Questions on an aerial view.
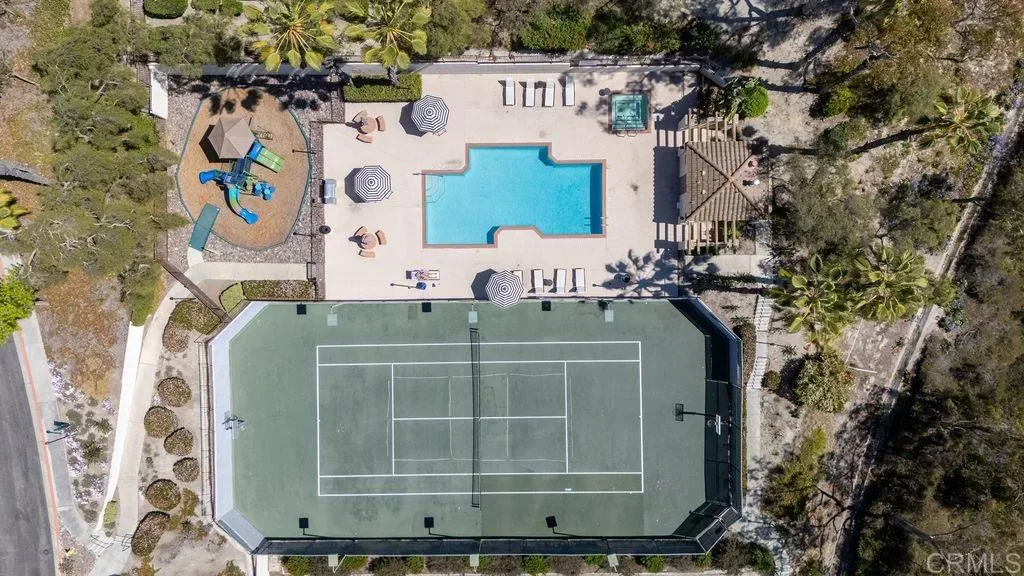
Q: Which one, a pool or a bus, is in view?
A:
pool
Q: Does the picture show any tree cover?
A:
Yes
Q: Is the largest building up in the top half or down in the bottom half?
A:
top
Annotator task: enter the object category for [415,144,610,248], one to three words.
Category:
swimming pool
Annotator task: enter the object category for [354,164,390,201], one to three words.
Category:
umbrella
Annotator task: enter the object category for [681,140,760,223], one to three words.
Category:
building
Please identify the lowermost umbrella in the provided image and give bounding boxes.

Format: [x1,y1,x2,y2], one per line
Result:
[487,270,523,306]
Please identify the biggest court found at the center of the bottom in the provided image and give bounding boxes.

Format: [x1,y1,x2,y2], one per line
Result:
[229,299,732,542]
